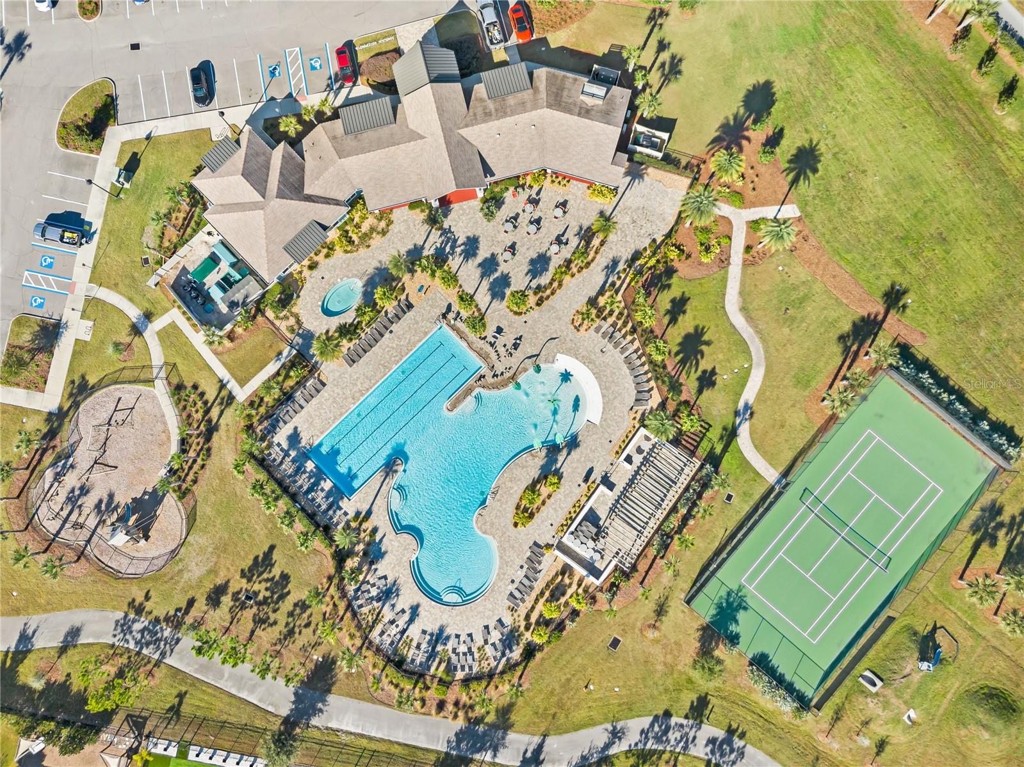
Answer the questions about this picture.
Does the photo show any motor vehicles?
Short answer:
Yes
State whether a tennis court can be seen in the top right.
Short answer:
No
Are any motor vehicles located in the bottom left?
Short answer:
No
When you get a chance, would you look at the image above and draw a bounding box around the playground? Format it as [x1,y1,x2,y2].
[33,385,186,575]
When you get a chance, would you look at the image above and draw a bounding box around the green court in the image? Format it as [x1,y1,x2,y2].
[687,373,996,705]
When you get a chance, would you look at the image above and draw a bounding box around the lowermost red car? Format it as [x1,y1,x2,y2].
[334,46,355,85]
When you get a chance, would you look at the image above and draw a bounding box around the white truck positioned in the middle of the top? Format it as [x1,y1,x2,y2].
[478,0,505,49]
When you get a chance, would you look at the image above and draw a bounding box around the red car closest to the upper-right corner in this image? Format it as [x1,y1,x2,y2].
[510,2,532,42]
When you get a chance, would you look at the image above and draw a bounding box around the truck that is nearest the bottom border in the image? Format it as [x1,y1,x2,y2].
[33,222,84,246]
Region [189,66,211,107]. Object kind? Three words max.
car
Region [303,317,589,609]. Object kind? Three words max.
swimming pool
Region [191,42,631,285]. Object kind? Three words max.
building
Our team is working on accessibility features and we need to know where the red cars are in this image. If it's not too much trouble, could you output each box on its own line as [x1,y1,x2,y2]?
[334,46,355,85]
[510,2,532,42]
